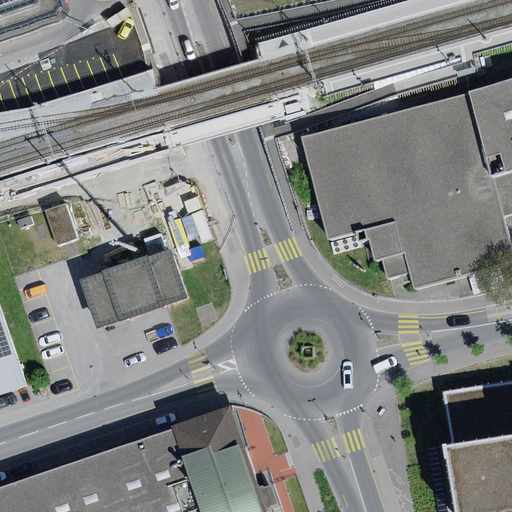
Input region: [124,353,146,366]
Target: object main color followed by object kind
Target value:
white vehicle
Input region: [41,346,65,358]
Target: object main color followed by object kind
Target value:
white vehicle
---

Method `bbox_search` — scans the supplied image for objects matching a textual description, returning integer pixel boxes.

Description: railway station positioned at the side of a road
[258,0,512,108]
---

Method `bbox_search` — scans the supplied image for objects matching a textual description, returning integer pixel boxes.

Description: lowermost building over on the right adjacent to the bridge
[302,80,512,296]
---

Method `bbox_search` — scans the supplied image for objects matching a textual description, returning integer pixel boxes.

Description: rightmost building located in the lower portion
[443,383,512,512]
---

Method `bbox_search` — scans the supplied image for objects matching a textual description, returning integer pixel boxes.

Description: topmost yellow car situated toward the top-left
[118,18,134,40]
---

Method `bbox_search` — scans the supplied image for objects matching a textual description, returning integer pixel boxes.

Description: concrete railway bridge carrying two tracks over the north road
[154,59,311,147]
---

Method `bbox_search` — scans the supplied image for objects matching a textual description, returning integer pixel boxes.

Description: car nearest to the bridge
[182,36,196,60]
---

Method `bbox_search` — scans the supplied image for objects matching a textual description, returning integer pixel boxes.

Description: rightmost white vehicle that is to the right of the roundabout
[371,356,398,373]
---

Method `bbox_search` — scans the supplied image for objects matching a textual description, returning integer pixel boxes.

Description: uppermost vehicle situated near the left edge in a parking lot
[24,282,48,298]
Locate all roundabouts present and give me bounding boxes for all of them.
[272,316,342,385]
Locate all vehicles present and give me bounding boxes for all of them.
[28,308,50,321]
[168,0,178,10]
[152,338,178,352]
[50,380,74,392]
[0,393,18,408]
[24,282,48,298]
[18,388,31,402]
[38,332,63,346]
[124,353,146,366]
[145,326,174,341]
[446,315,470,326]
[342,360,354,388]
[41,346,65,358]
[118,18,134,40]
[154,413,176,426]
[371,356,398,373]
[182,36,196,60]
